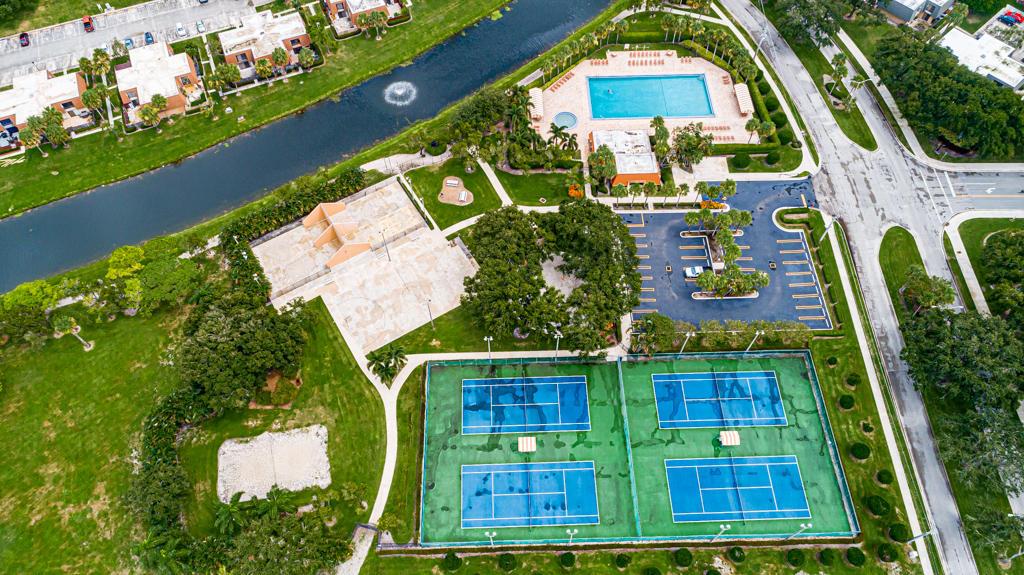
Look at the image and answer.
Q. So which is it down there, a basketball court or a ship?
basketball court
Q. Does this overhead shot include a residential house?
Yes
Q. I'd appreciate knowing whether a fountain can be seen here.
Yes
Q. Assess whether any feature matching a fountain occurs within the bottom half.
No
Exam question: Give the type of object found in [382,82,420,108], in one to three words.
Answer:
fountain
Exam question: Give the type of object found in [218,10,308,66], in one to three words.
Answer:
house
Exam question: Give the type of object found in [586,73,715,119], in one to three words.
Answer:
swimming pool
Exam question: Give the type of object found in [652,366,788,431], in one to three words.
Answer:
tennis court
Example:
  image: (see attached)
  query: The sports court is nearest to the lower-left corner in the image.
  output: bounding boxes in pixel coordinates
[217,424,333,505]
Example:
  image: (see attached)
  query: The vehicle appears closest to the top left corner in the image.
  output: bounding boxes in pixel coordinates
[17,32,29,46]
